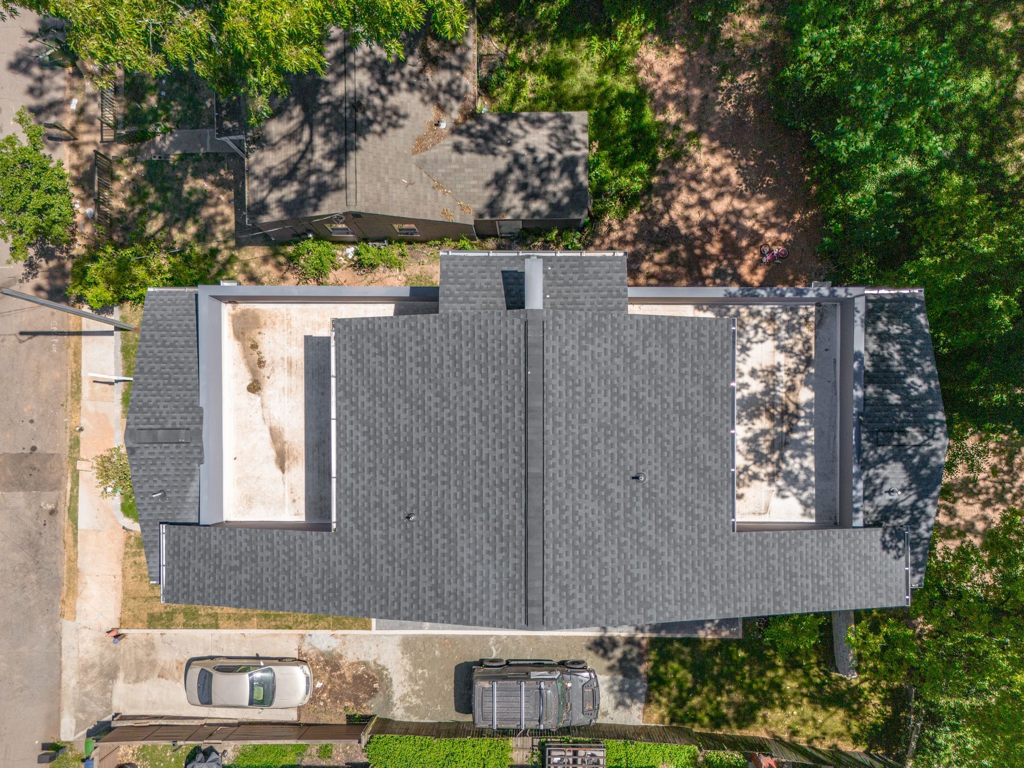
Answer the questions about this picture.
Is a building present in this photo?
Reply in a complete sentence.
Yes, looking at the shot, I can spot a building.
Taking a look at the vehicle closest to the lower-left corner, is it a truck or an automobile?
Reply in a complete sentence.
The vehicle closest to the lower-left corner in the image is an automobile.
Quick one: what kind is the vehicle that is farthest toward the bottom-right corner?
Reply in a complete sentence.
The vehicle that is farthest toward the bottom-right corner is a car.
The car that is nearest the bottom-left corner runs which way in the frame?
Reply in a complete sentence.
Seen from above, the car that is nearest the bottom-left corner lies from side to side.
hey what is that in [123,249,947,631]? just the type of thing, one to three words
house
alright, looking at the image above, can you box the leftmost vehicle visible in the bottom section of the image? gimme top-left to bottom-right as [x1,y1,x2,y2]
[184,656,316,716]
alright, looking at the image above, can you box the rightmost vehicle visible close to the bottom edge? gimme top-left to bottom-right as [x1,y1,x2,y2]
[471,656,601,731]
